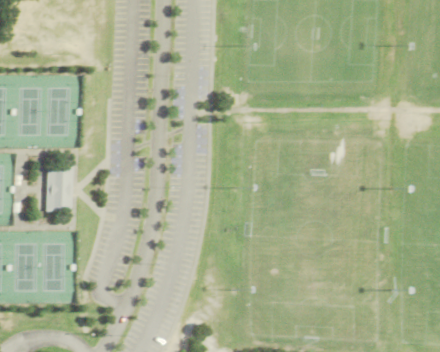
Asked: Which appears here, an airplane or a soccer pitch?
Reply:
soccer pitch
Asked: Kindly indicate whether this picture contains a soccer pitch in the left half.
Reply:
No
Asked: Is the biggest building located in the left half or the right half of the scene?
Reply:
left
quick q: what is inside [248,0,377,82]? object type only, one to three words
soccer field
